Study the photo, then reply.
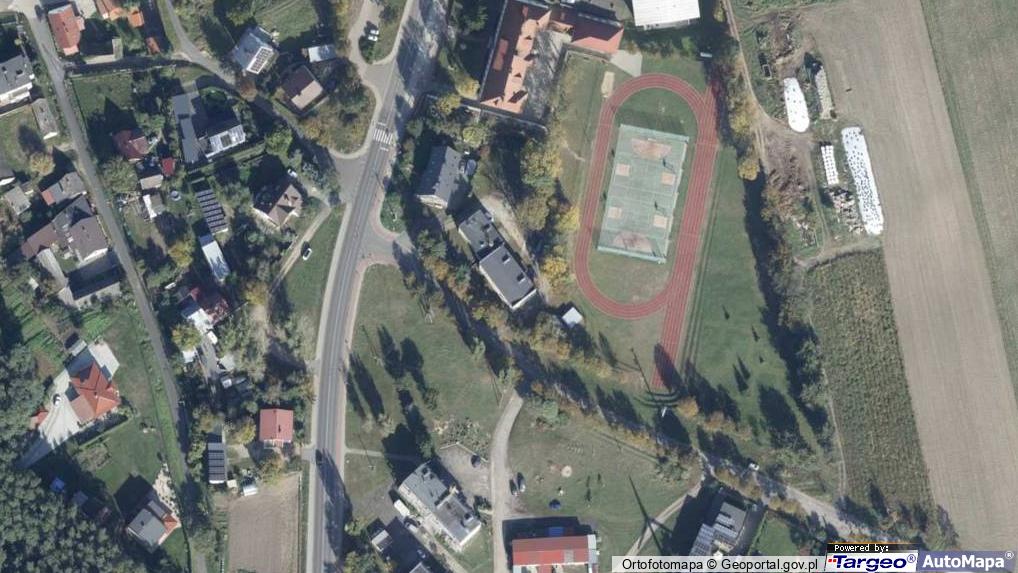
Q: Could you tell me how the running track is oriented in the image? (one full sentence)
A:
Seen from above, the running track lies from top to bottom.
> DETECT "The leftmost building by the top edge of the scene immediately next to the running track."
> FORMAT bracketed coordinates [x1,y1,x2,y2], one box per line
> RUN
[480,0,623,116]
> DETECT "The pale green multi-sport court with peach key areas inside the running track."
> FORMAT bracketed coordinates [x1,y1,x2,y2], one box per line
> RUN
[599,125,689,263]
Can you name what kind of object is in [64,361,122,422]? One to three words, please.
house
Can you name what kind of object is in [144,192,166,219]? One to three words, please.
shed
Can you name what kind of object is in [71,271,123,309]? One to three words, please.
barn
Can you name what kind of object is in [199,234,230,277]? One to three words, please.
shed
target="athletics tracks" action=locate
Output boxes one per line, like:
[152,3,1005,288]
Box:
[575,74,726,388]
